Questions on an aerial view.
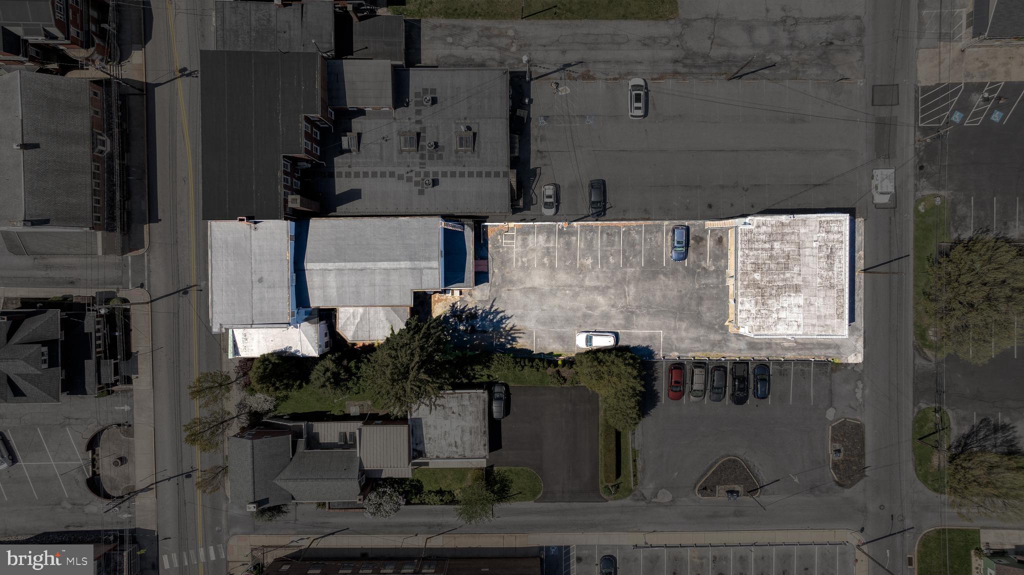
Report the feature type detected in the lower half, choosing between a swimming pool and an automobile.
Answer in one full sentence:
The one visible in the lower half is an automobile.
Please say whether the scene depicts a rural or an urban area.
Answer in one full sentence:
From above, the setting appears urban.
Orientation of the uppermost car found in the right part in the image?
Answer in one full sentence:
In this picture, the uppermost car found in the right part is oriented vertically.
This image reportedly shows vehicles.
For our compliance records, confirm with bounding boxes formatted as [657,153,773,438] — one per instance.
[0,430,16,469]
[730,362,751,404]
[489,382,508,419]
[628,79,648,120]
[541,184,558,216]
[588,179,607,217]
[709,365,729,401]
[871,167,898,208]
[667,363,687,400]
[751,364,772,400]
[688,362,709,402]
[577,330,617,349]
[671,225,690,262]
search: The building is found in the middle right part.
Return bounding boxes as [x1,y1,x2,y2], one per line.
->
[728,214,850,341]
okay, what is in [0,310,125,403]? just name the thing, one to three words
house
